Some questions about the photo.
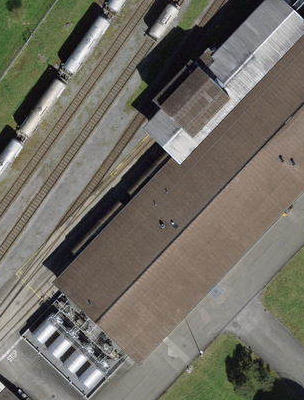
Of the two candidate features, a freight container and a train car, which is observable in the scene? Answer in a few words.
train car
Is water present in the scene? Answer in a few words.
No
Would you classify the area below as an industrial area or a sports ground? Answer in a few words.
industrial area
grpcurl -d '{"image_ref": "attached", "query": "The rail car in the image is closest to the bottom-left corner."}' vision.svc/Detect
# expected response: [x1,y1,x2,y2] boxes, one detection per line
[73,202,127,258]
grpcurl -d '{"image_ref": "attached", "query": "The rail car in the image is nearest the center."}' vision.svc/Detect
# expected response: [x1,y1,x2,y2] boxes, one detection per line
[126,153,174,204]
